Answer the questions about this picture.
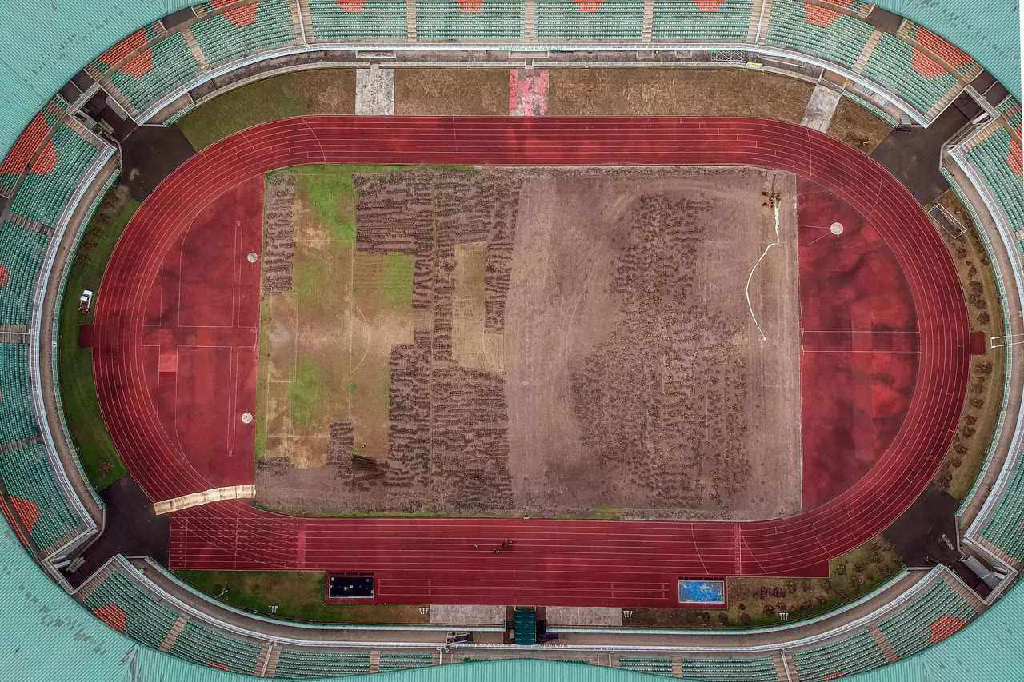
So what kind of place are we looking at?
sports ground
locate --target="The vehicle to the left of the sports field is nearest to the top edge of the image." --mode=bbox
[77,289,93,312]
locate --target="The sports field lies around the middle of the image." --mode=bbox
[255,163,800,525]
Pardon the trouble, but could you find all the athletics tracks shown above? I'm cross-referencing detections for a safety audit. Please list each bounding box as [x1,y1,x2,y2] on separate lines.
[78,113,985,610]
